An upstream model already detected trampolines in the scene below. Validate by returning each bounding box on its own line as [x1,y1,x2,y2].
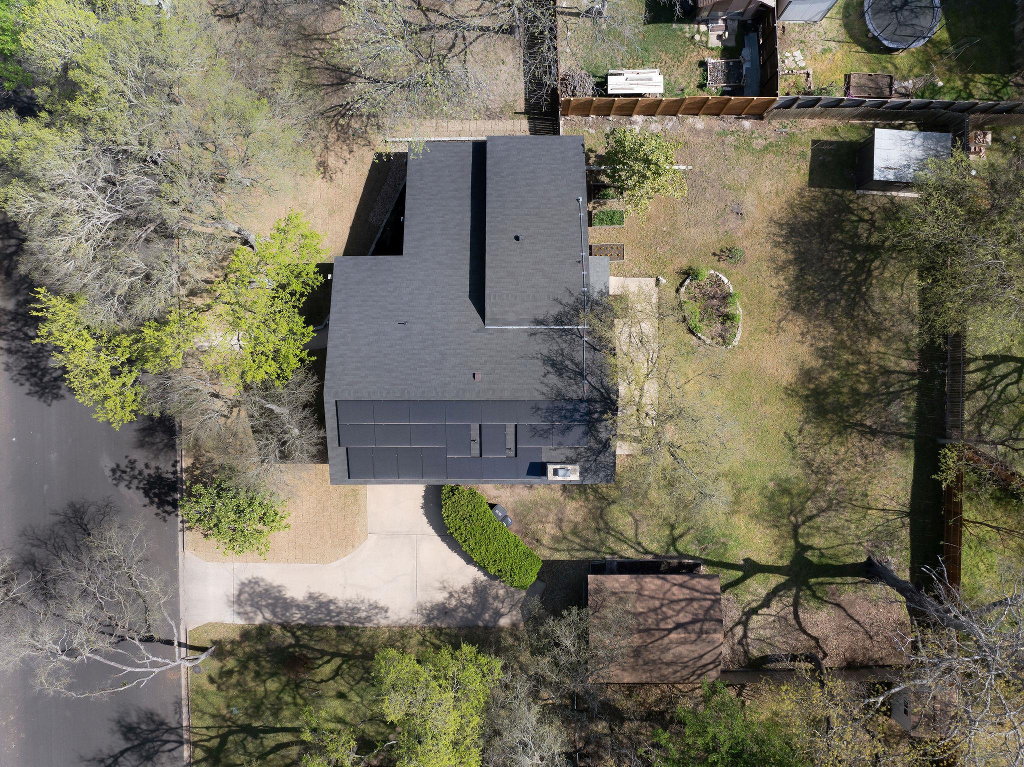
[858,0,961,58]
